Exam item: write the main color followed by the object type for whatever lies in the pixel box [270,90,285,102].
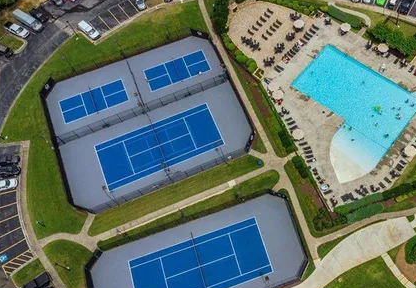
white umbrella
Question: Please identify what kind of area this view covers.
sports ground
